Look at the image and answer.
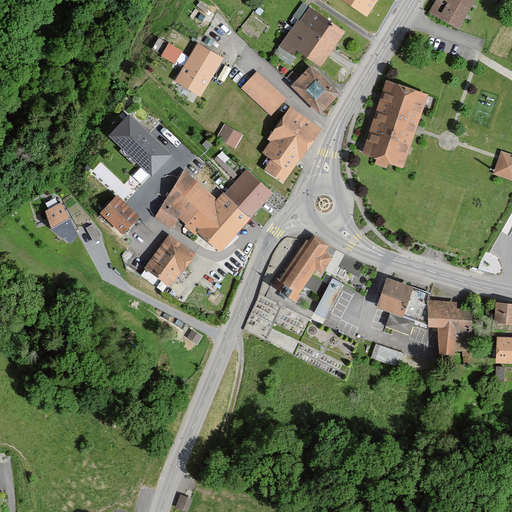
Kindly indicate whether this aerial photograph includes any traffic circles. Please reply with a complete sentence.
Yes, there's a traffic circle down there.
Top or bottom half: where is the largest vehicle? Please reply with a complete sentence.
Seen from above, the largest vehicle lies in the top half of the view.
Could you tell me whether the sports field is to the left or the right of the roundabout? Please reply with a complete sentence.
You can see the sports field positioned to the right of the roundabout.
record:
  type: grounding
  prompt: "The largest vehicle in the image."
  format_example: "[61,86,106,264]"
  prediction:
[160,126,180,146]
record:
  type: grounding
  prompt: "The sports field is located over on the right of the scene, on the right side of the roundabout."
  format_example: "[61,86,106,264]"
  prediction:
[414,179,466,246]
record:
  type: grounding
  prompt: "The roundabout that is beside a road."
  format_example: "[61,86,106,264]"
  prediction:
[296,175,354,233]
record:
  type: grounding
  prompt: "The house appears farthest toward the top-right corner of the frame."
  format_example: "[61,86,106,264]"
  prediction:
[429,0,476,30]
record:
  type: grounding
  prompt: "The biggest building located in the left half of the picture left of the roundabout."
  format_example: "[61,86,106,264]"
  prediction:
[155,170,250,252]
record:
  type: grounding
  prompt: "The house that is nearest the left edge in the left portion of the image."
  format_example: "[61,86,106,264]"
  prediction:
[46,204,78,244]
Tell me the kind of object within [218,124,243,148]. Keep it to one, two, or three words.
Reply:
building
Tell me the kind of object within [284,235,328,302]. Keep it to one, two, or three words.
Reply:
building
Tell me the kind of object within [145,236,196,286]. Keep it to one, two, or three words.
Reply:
house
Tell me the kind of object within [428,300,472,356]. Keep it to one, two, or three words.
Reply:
house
